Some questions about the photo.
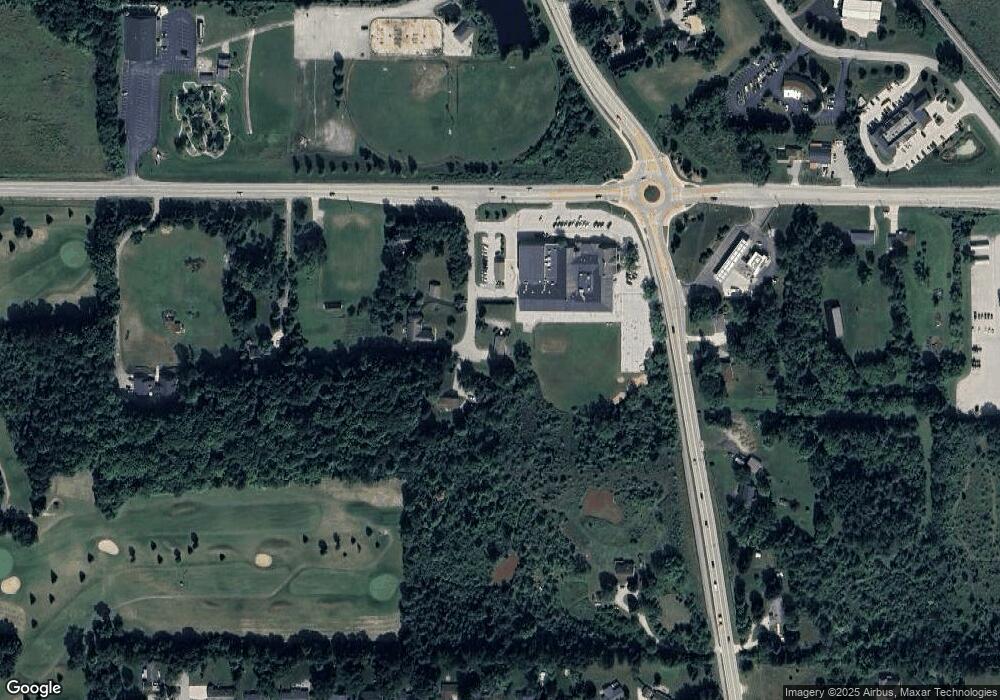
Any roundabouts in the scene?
Yes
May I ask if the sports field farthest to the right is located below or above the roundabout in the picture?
below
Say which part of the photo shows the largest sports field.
top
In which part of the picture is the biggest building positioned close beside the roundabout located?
center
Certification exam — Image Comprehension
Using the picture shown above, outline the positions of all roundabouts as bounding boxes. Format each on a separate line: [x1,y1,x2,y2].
[600,149,704,240]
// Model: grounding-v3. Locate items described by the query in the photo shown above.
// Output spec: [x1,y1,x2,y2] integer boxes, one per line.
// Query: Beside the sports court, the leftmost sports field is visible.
[294,61,368,156]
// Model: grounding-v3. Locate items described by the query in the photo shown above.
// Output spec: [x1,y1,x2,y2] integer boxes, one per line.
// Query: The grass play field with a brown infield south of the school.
[534,323,647,408]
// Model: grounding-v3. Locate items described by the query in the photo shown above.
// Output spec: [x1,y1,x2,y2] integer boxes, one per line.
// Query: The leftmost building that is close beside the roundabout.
[519,245,620,311]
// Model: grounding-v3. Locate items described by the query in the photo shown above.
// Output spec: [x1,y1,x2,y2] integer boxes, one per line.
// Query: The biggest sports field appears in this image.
[344,58,559,167]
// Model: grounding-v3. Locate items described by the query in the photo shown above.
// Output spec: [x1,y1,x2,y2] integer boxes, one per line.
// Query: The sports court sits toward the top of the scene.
[369,19,442,57]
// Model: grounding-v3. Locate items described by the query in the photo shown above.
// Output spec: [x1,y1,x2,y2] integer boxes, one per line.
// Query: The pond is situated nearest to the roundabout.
[486,0,533,56]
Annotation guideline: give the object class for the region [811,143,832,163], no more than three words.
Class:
building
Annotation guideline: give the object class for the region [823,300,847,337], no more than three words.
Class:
barn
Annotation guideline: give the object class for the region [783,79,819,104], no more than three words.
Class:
building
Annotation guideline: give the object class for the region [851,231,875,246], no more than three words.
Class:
house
